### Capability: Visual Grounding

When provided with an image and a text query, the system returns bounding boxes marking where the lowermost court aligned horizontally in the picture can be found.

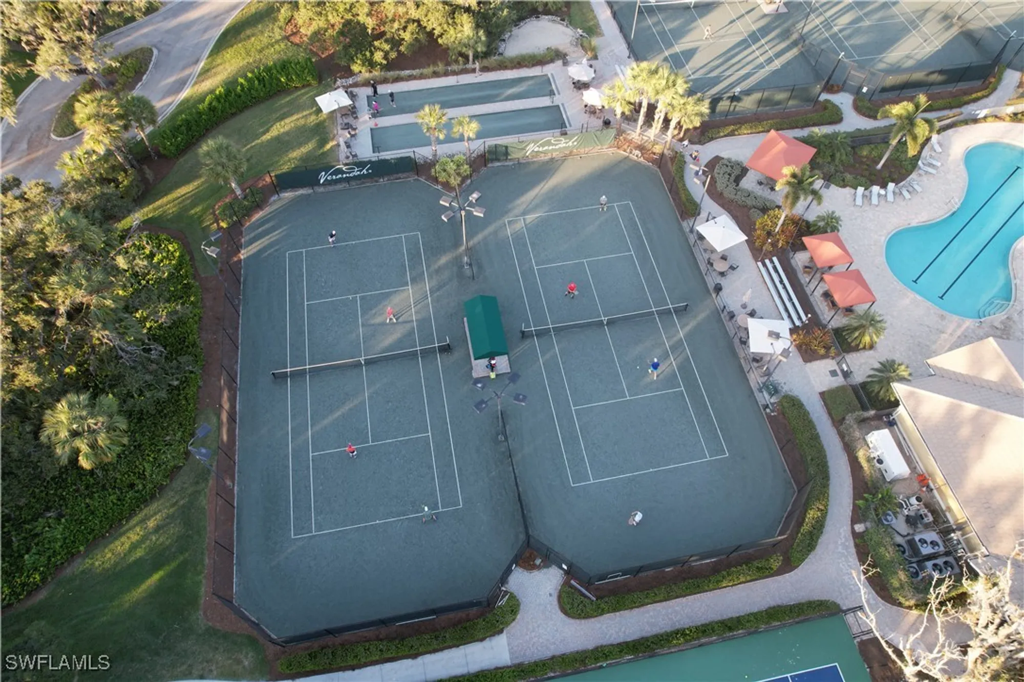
[571,613,869,682]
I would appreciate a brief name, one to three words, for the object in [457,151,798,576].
tennis court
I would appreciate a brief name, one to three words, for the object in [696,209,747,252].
umbrella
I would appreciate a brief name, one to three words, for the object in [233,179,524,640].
tennis court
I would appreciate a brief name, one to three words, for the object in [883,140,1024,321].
swimming pool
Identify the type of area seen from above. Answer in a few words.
sports ground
